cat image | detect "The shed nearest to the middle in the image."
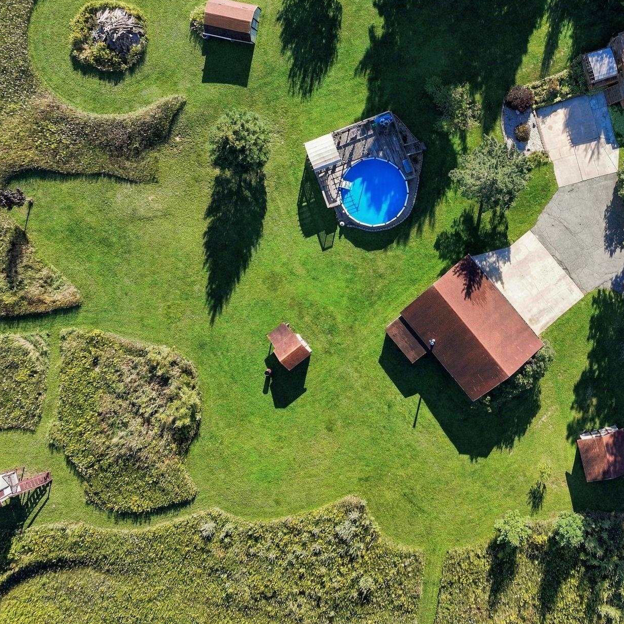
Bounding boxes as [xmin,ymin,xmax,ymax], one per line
[269,319,315,369]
